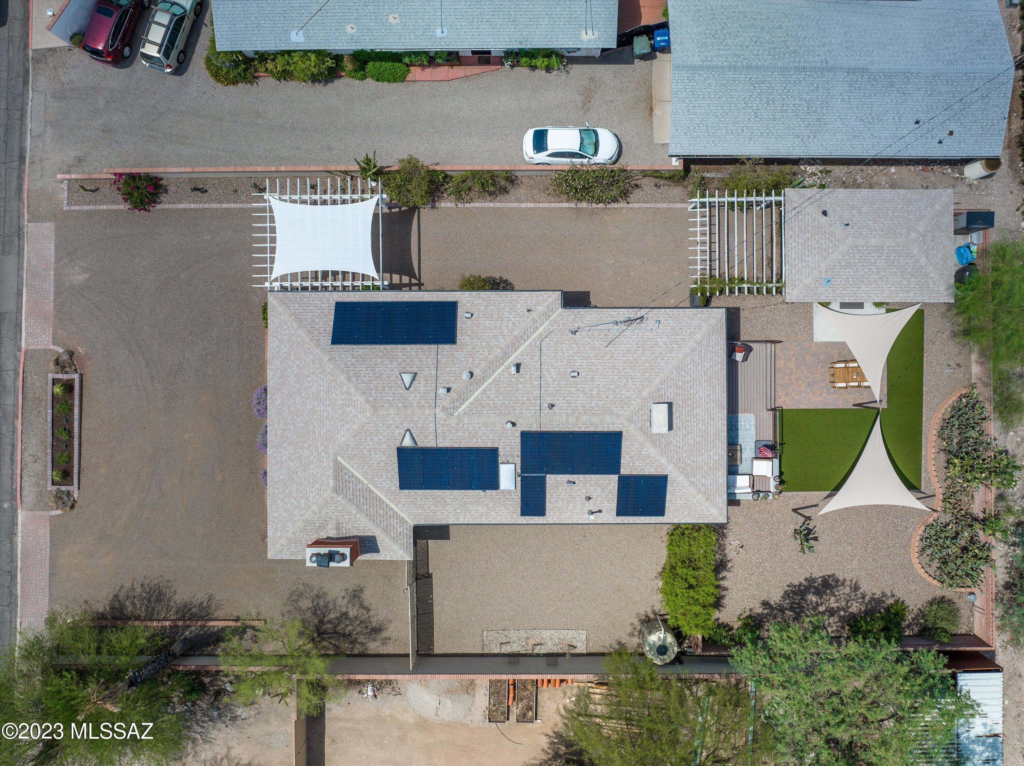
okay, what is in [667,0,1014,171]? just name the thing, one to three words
house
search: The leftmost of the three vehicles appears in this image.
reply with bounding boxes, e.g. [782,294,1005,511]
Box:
[80,0,153,69]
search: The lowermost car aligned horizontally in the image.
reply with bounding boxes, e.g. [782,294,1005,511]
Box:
[522,119,618,166]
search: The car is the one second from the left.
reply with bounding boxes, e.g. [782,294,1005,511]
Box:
[137,0,205,78]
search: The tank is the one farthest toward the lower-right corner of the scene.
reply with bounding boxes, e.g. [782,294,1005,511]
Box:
[636,614,677,663]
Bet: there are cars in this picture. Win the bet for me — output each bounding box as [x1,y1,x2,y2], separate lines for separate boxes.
[522,119,618,166]
[137,0,205,78]
[80,0,153,69]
